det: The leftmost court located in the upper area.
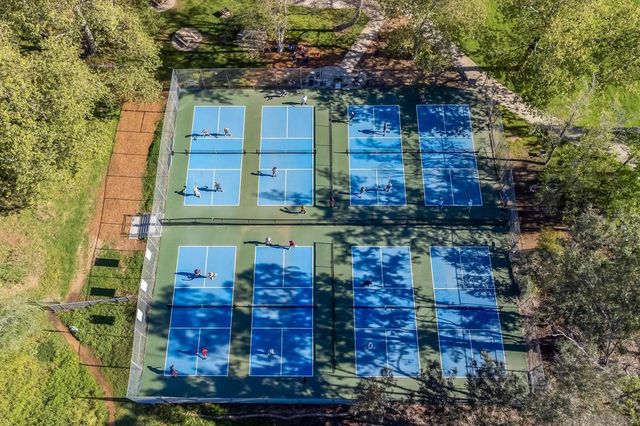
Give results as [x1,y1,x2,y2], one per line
[183,106,246,206]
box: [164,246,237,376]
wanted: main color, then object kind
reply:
blue sports court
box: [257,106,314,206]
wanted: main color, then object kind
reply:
blue sports court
